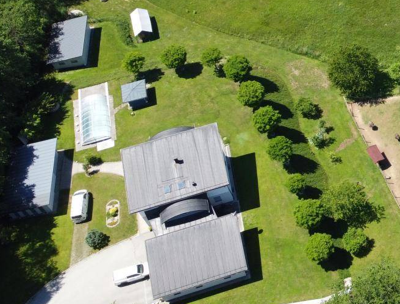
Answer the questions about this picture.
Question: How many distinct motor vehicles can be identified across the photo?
2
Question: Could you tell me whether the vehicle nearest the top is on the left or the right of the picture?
left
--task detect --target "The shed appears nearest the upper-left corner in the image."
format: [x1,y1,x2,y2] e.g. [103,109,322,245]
[48,16,90,72]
